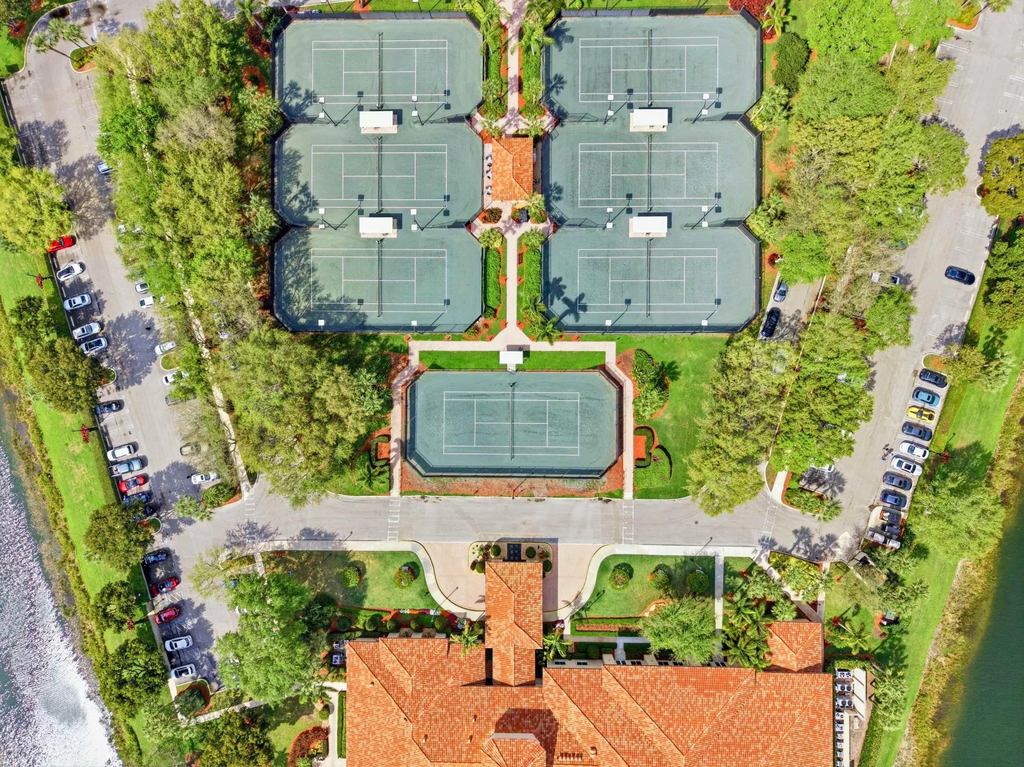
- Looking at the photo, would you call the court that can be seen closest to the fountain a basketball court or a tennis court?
tennis court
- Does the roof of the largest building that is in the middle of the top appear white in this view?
No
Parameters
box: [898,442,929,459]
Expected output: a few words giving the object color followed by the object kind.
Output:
white car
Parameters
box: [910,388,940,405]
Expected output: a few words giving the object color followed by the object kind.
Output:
blue car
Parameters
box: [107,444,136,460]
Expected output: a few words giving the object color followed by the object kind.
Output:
white car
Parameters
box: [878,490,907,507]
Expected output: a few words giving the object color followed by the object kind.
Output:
blue car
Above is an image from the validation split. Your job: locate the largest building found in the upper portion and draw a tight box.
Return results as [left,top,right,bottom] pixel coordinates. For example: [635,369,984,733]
[492,137,533,207]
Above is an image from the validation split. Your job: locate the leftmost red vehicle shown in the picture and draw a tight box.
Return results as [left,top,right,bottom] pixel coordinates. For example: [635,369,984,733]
[52,235,77,253]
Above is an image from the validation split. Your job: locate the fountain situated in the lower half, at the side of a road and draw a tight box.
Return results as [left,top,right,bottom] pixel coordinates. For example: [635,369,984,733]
[503,544,526,562]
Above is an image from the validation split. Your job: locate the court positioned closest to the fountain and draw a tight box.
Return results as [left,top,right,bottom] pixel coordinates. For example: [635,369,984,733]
[406,371,618,478]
